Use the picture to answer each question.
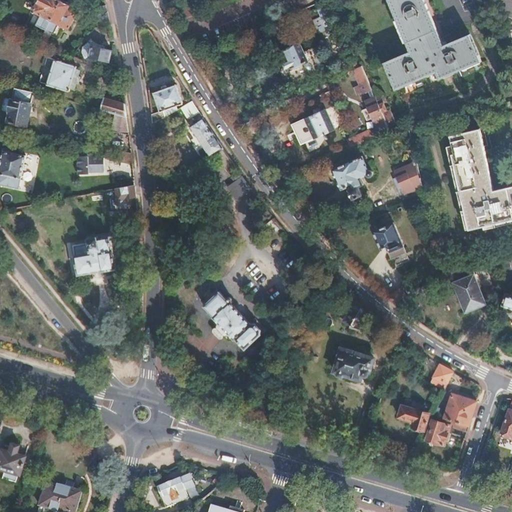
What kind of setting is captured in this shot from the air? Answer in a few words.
residential area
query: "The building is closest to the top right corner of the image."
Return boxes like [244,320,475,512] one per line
[382,0,480,92]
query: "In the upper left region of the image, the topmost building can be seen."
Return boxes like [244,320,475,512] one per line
[24,0,76,33]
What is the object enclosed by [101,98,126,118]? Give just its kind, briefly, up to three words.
building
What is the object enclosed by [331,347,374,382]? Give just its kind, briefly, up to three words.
house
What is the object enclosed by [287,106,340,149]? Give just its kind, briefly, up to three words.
house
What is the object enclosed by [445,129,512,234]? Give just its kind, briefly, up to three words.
building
